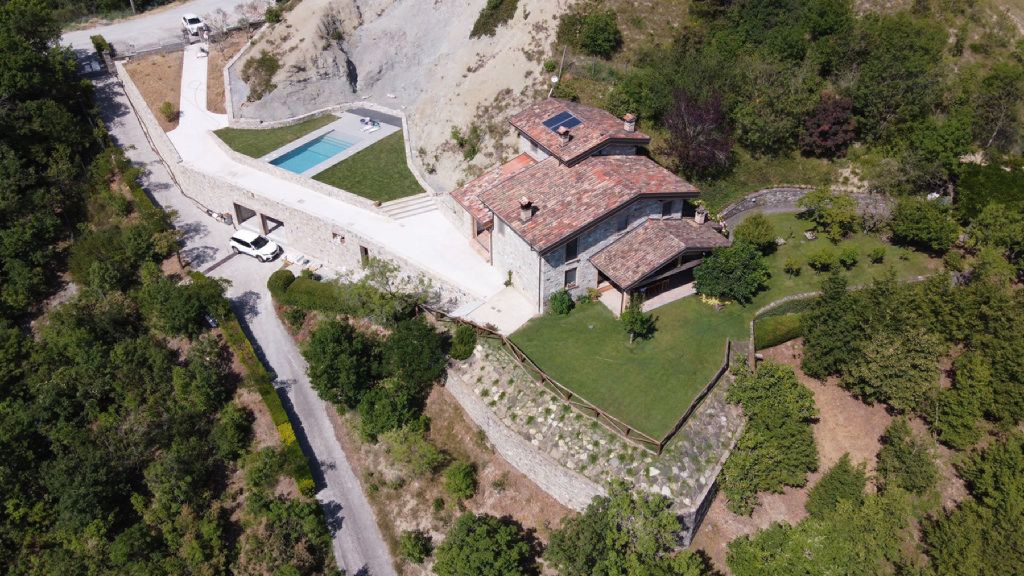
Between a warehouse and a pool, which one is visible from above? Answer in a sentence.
Looking from above, you can make out a pool.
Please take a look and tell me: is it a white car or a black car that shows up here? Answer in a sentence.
Of the two, only a white car appears.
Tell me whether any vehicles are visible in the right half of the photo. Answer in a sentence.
No, the scene shows no vehicle in the right half of the photo.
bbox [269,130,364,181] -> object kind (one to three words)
swimming pool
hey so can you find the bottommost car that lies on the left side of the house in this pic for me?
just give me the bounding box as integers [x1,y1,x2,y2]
[228,229,278,263]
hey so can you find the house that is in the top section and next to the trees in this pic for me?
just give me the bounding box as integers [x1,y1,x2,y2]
[448,93,730,320]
